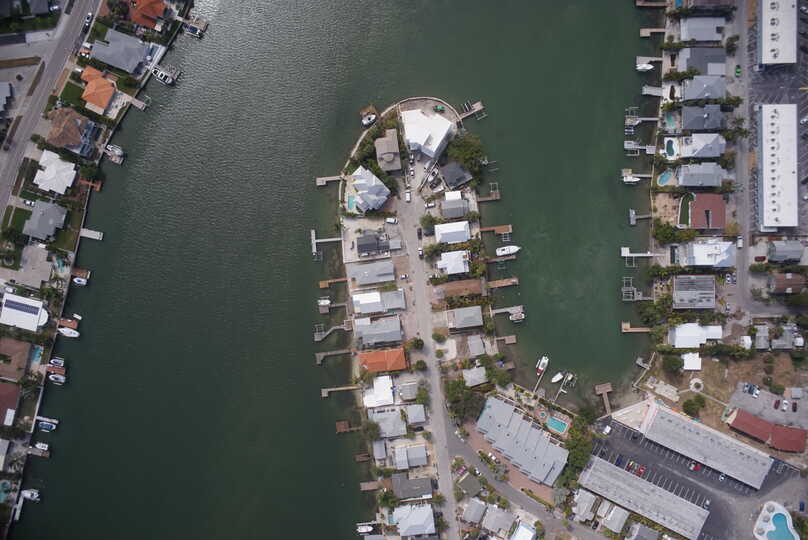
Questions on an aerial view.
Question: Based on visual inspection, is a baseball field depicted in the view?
No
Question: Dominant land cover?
water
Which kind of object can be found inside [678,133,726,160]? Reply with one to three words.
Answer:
house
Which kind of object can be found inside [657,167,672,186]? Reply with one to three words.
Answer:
swimming pool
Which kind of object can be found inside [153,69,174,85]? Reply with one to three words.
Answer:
boat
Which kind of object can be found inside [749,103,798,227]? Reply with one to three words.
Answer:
building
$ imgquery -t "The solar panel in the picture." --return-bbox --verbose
[4,299,39,313]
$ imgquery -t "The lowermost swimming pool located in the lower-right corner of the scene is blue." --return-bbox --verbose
[766,512,795,540]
